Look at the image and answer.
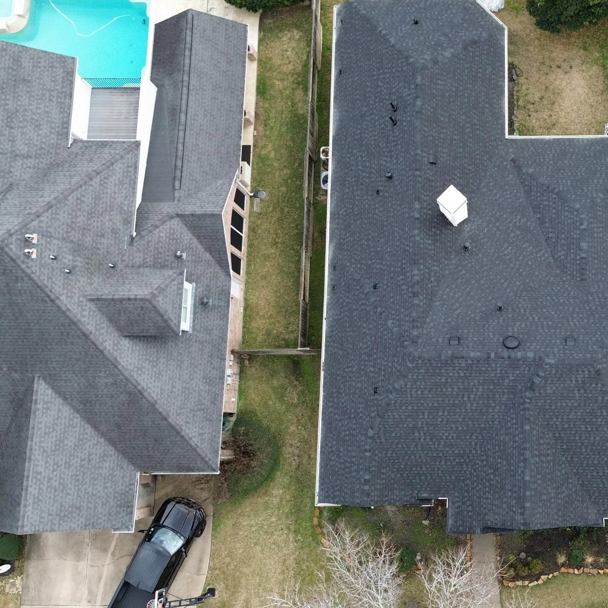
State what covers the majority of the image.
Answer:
buildings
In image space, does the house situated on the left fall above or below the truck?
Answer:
above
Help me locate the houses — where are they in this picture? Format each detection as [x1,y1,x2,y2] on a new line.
[314,0,608,534]
[0,9,259,535]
